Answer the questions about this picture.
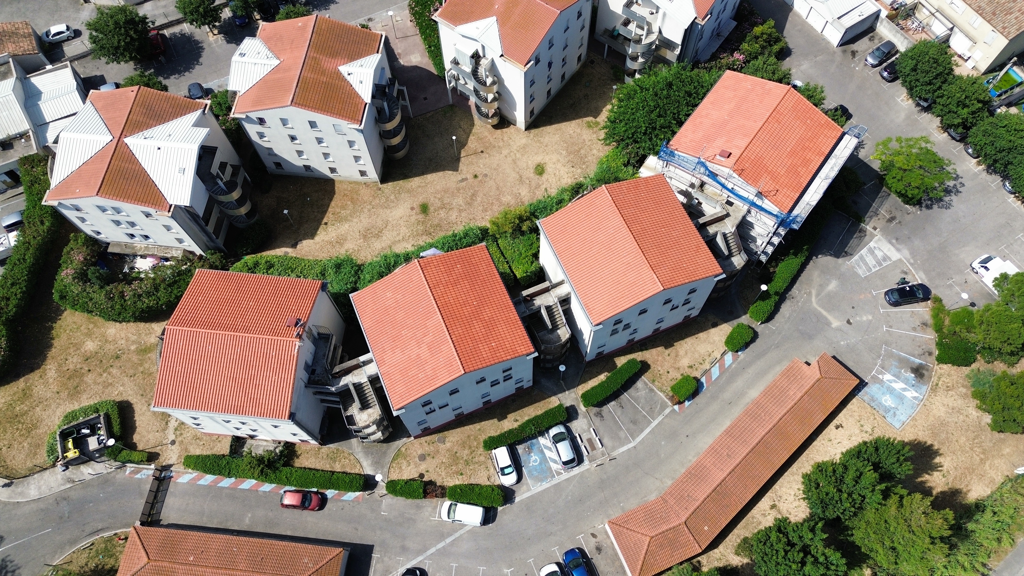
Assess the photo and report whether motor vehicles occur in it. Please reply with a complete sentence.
Yes, there's a motor vehicle down there.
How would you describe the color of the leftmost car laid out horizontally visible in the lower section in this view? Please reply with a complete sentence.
The leftmost car laid out horizontally visible in the lower section looks red in the image.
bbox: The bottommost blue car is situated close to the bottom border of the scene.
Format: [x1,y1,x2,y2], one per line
[565,548,592,576]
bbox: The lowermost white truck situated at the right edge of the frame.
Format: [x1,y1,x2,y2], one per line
[965,255,1024,288]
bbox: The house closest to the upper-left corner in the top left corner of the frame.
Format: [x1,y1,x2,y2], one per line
[0,13,51,76]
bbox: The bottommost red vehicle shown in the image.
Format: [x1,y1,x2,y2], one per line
[278,490,323,512]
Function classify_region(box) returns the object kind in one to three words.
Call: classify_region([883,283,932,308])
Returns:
car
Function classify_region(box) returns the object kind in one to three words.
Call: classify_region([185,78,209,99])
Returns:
car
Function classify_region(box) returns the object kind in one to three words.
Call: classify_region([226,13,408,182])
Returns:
house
